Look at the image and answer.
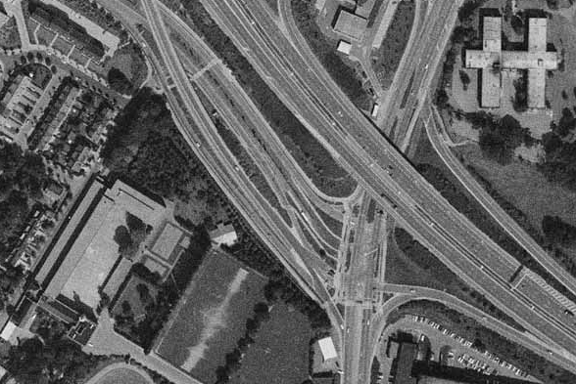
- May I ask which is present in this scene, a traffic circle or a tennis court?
tennis court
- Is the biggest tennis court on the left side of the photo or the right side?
left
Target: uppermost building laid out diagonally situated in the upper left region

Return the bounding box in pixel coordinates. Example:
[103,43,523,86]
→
[32,5,101,57]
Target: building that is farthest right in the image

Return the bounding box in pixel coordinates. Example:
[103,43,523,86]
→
[466,18,556,107]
